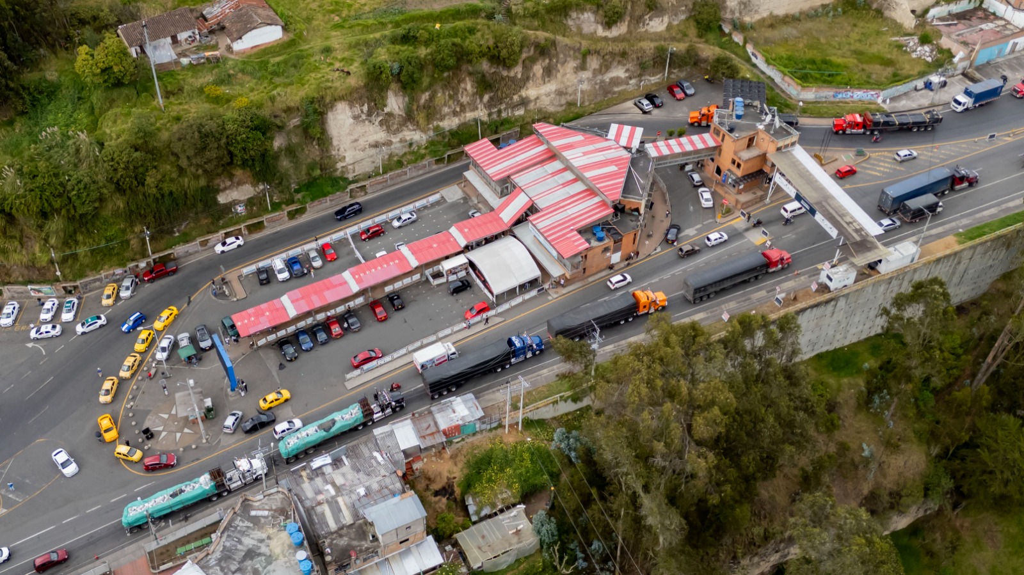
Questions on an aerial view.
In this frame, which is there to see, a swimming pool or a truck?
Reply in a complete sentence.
This aerial view contains a truck.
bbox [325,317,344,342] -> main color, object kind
red car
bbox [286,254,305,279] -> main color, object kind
blue vehicle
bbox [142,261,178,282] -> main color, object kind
red truck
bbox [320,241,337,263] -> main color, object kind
red car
